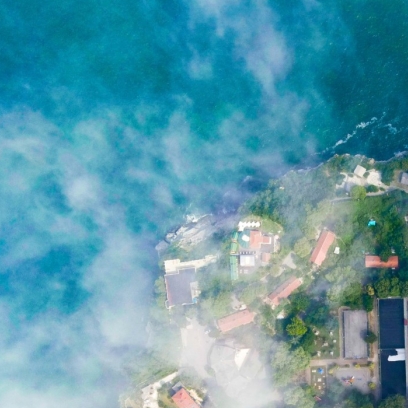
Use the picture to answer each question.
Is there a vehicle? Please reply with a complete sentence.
No, I can see no vehicle in this picture.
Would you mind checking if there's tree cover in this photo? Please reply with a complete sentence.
Yes, tree cover shows up in the scene.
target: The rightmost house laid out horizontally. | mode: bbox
[364,256,398,270]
